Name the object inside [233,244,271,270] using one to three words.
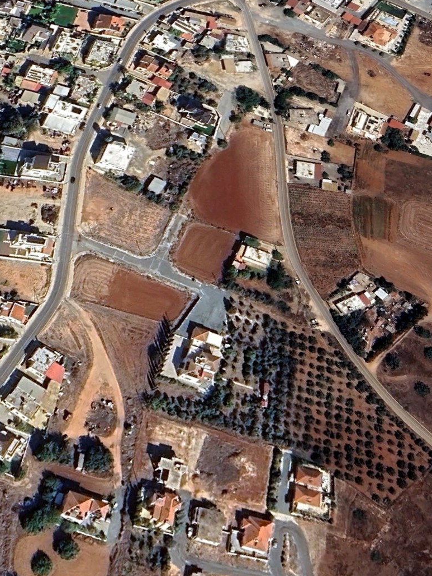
house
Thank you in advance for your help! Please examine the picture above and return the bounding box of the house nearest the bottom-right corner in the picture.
[291,464,322,516]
